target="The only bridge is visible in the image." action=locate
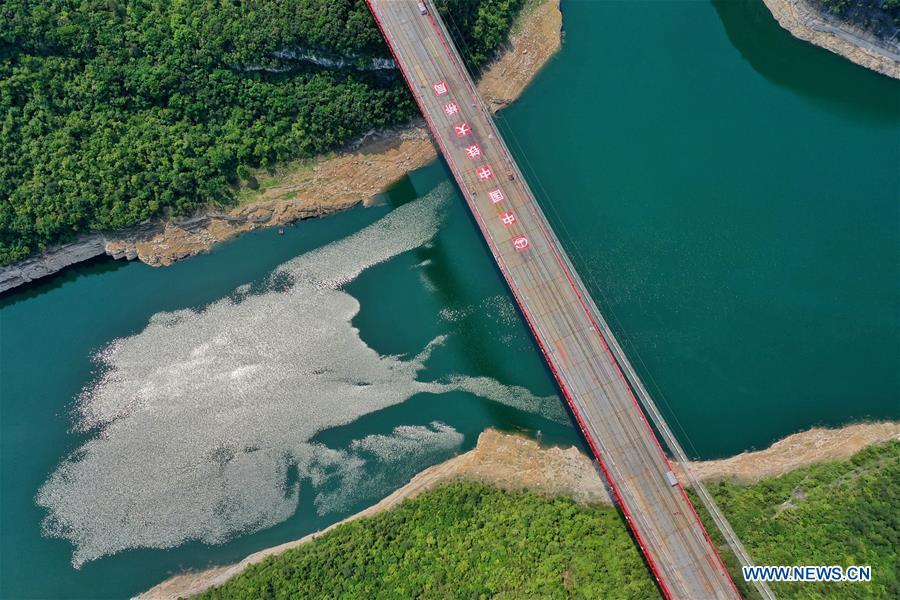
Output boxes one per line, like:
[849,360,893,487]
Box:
[366,0,773,600]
